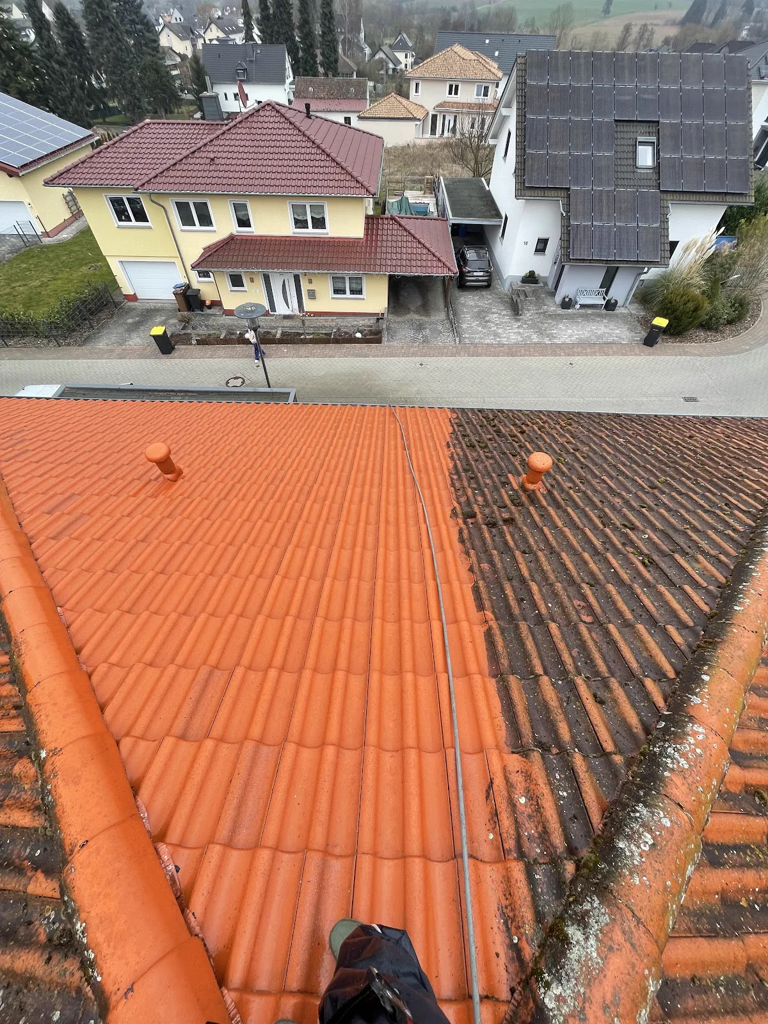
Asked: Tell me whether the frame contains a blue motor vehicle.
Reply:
No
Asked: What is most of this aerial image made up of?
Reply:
buildings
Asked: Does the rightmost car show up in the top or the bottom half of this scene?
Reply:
top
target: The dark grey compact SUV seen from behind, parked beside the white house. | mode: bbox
[457,244,493,282]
